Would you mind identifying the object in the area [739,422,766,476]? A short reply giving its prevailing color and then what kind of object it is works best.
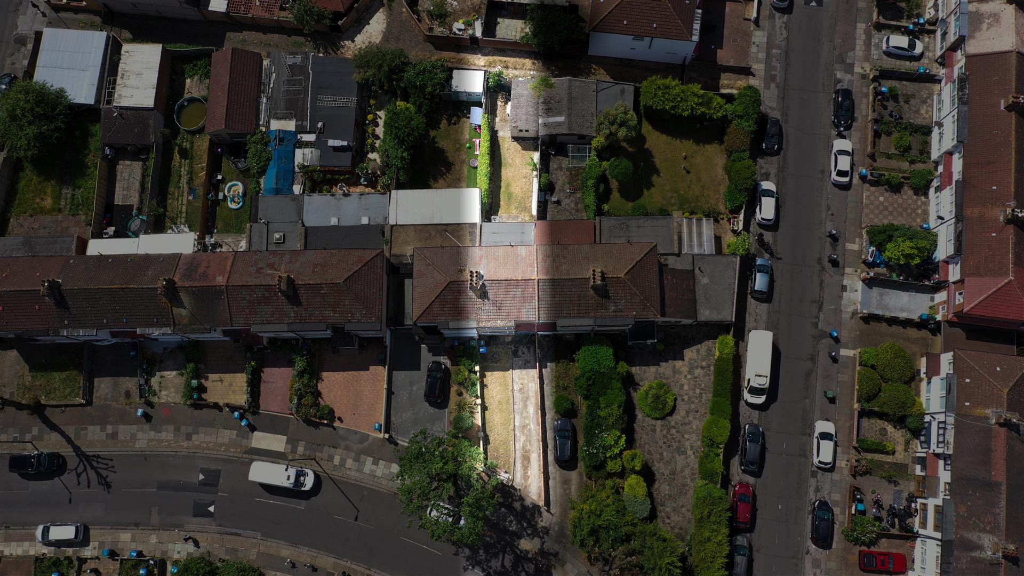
black car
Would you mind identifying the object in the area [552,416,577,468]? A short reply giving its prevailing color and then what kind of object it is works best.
black car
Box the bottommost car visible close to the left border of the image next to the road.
[34,521,88,548]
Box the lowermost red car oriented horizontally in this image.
[857,551,907,576]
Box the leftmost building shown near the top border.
[33,28,120,115]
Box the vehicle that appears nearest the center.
[425,361,449,406]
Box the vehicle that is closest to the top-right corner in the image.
[882,34,922,58]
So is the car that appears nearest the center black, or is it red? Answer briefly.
black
